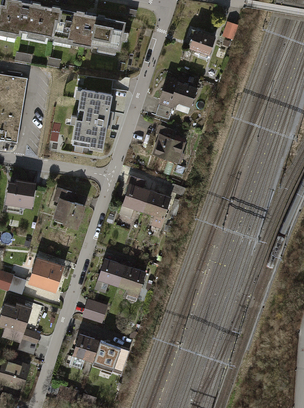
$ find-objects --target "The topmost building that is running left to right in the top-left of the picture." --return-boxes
[0,0,125,55]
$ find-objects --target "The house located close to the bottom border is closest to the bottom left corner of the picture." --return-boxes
[0,359,30,390]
